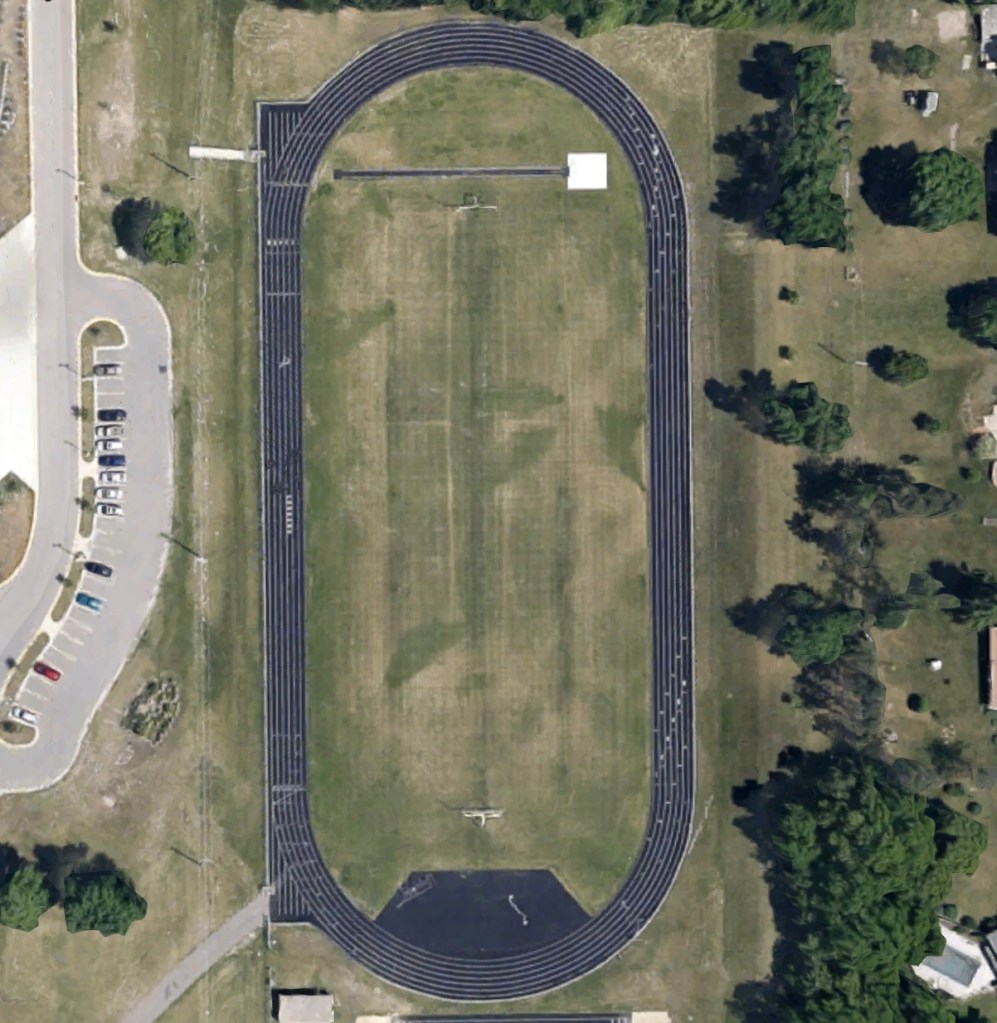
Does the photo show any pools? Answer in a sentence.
Yes, there's a pool down there.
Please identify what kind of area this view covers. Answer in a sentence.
What you see here is a sports ground.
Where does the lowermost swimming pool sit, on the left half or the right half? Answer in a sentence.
The lowermost swimming pool is on the right side of the image.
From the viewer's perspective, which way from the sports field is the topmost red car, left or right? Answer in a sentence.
It is on the left side of the sports field that the topmost red car is positioned.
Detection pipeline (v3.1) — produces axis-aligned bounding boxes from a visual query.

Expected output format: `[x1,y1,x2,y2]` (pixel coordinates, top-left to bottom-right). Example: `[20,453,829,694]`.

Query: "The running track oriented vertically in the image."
[257,23,694,1000]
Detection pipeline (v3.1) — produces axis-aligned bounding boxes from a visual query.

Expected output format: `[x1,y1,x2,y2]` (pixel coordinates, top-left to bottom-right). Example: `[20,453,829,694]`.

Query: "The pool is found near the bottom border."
[910,921,995,999]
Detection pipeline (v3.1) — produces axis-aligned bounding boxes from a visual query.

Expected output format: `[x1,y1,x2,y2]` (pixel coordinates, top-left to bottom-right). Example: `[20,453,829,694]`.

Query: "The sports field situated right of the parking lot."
[302,65,652,922]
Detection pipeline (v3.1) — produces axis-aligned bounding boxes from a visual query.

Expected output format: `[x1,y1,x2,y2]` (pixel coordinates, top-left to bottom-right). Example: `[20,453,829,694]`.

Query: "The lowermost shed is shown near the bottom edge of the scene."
[277,993,333,1023]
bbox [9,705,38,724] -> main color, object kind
white car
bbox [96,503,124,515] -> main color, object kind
white vehicle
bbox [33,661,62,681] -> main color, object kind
red car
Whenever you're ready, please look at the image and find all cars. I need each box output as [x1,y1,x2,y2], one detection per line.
[98,454,126,468]
[96,425,123,437]
[100,471,127,483]
[9,705,38,724]
[76,593,104,609]
[96,488,123,498]
[96,503,124,515]
[95,440,123,452]
[97,408,127,422]
[33,661,62,681]
[84,561,113,576]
